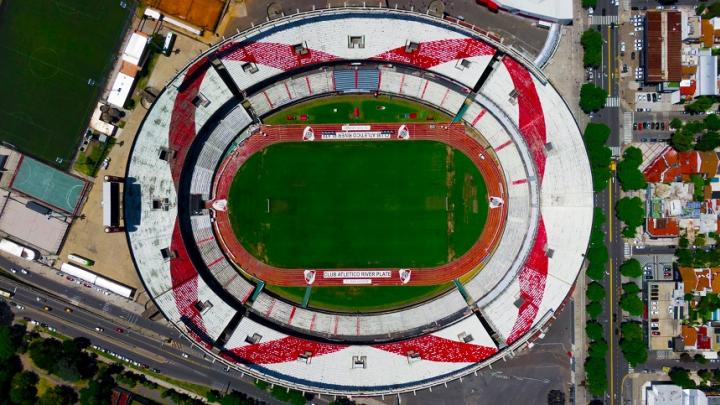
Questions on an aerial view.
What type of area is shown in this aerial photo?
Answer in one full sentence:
The picture captures a sports ground.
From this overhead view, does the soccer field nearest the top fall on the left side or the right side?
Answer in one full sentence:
You can find the soccer field nearest the top on the left side of the picture.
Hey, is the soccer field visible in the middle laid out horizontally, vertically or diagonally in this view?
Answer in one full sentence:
In this picture, the soccer field visible in the middle is oriented horizontally.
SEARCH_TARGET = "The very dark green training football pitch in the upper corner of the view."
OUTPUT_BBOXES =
[0,0,141,171]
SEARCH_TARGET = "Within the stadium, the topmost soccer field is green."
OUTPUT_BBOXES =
[229,140,487,269]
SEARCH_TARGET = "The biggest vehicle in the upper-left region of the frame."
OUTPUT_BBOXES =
[162,32,176,55]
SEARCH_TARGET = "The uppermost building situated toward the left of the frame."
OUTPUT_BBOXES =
[122,33,151,66]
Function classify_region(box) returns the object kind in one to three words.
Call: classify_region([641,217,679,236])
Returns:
house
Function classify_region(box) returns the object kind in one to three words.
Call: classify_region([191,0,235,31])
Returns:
tennis court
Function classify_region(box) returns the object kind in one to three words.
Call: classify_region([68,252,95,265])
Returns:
vehicle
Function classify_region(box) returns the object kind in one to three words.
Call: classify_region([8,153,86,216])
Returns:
sports court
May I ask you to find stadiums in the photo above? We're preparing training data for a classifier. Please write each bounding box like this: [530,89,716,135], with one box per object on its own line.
[125,3,594,401]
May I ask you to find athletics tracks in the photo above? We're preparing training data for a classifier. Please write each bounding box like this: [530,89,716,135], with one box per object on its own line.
[214,122,504,286]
